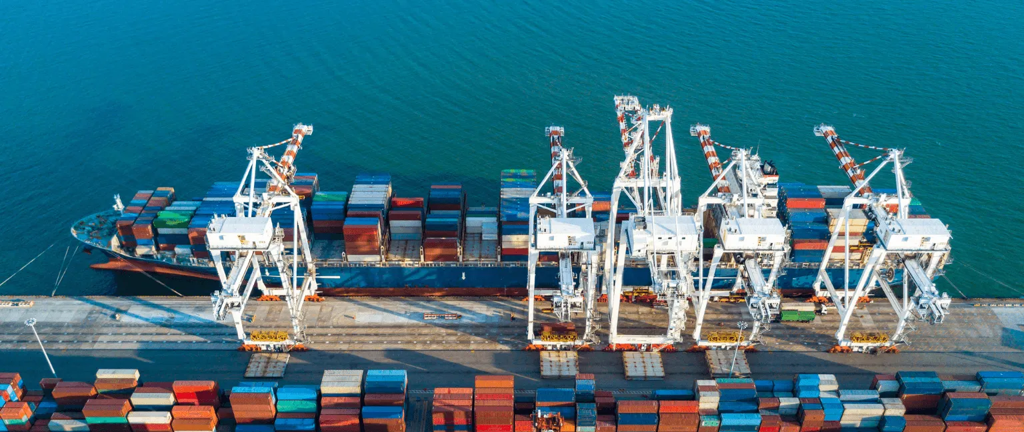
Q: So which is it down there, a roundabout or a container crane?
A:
container crane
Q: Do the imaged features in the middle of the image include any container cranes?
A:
Yes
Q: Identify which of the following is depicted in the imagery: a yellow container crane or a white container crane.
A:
white container crane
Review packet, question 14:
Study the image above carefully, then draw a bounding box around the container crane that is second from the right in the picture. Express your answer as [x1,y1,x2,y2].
[682,124,788,352]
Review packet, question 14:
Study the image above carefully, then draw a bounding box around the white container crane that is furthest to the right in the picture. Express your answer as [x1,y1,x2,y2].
[804,123,951,354]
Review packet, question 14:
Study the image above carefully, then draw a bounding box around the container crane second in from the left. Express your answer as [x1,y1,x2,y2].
[520,122,606,352]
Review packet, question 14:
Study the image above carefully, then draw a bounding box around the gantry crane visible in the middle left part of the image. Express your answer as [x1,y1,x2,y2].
[204,122,323,350]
